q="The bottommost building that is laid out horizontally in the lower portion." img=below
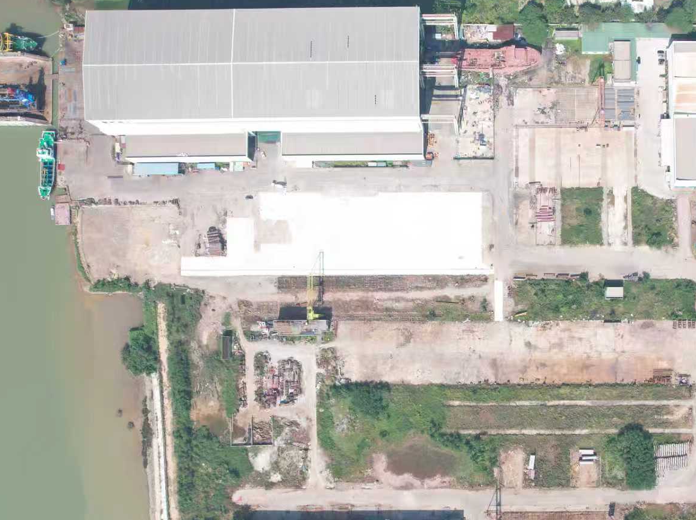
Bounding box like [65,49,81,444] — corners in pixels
[273,320,331,335]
